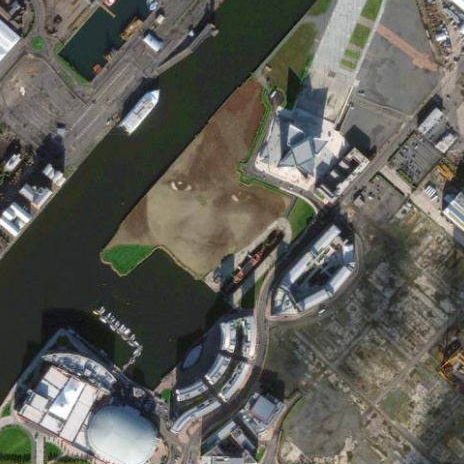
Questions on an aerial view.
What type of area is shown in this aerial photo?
port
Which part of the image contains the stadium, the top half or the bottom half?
bottom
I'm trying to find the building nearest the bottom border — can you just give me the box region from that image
[200,420,257,464]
